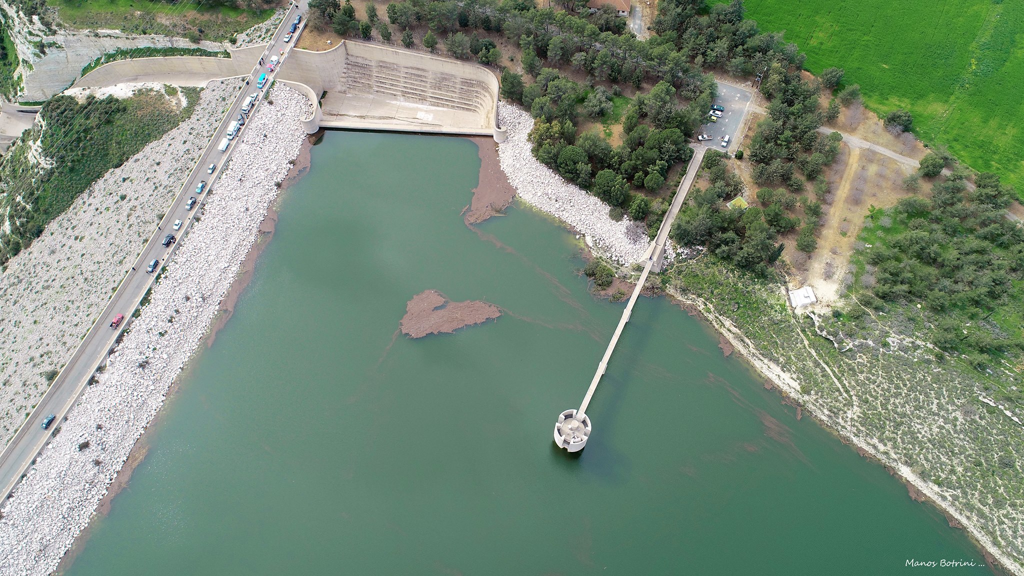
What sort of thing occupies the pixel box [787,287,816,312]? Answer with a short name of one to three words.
shed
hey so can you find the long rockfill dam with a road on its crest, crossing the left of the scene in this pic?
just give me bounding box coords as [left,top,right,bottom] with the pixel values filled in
[0,1,326,576]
